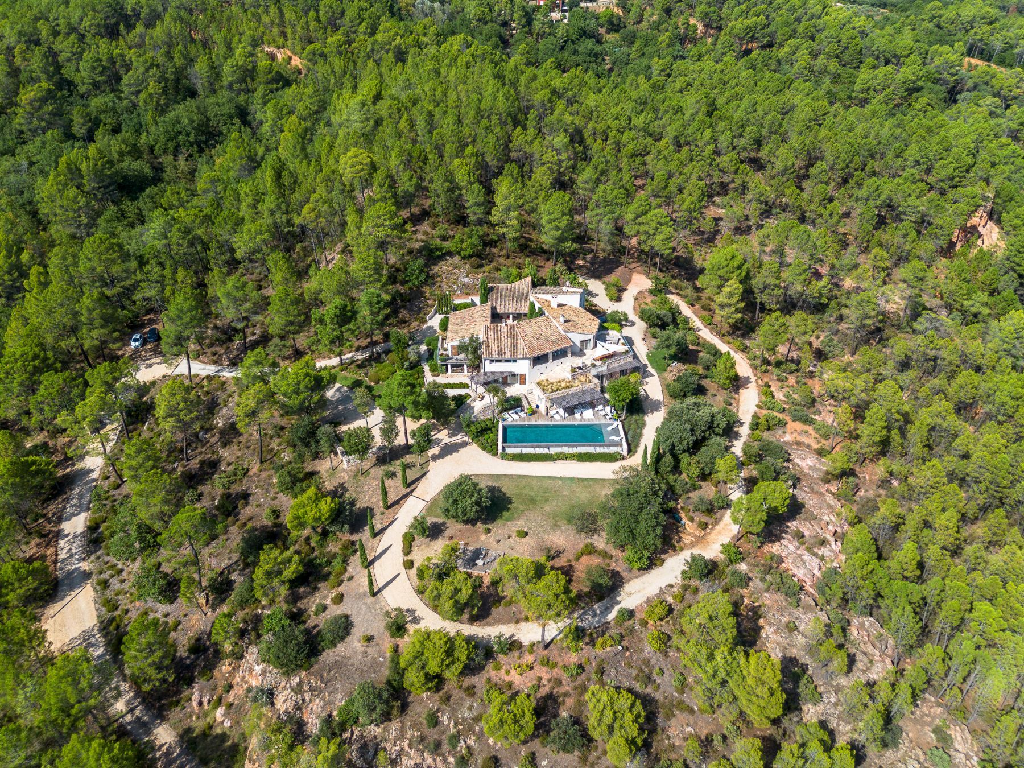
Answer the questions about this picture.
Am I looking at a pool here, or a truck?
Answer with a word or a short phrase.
pool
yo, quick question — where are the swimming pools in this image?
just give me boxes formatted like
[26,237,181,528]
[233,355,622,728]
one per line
[499,422,630,460]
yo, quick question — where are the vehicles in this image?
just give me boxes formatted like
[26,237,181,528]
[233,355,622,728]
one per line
[145,326,159,342]
[128,333,142,349]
